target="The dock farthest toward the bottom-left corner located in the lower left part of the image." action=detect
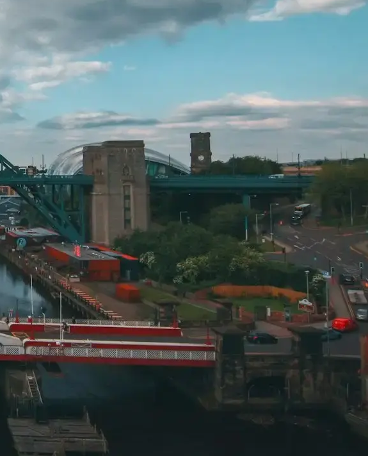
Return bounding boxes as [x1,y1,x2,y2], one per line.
[4,402,118,456]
